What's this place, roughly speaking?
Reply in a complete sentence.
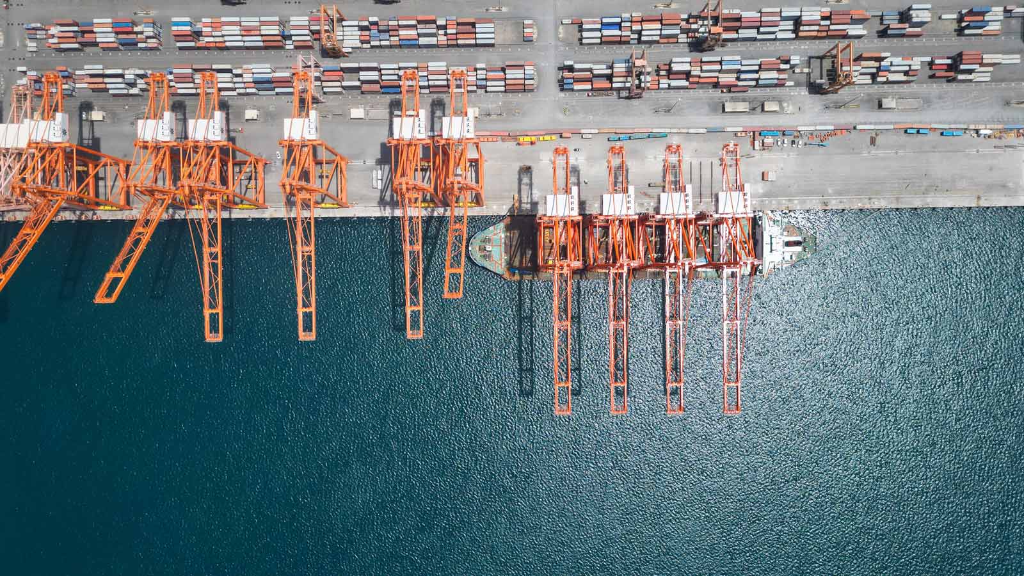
It's a port.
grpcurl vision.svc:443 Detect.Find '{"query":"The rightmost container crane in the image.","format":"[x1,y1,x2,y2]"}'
[815,38,854,94]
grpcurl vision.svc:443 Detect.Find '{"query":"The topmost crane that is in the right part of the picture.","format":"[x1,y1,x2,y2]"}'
[691,0,723,52]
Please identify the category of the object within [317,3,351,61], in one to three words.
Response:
container crane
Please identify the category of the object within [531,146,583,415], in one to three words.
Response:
container crane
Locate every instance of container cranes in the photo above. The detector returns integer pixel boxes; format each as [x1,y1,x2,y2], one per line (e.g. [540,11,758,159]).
[298,51,330,105]
[683,143,761,413]
[579,145,639,414]
[815,38,854,94]
[383,70,445,341]
[0,82,91,214]
[95,74,228,304]
[691,0,723,52]
[175,73,273,344]
[531,146,583,415]
[629,144,700,413]
[619,42,648,99]
[432,69,491,299]
[275,71,355,342]
[0,75,137,299]
[317,3,351,61]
